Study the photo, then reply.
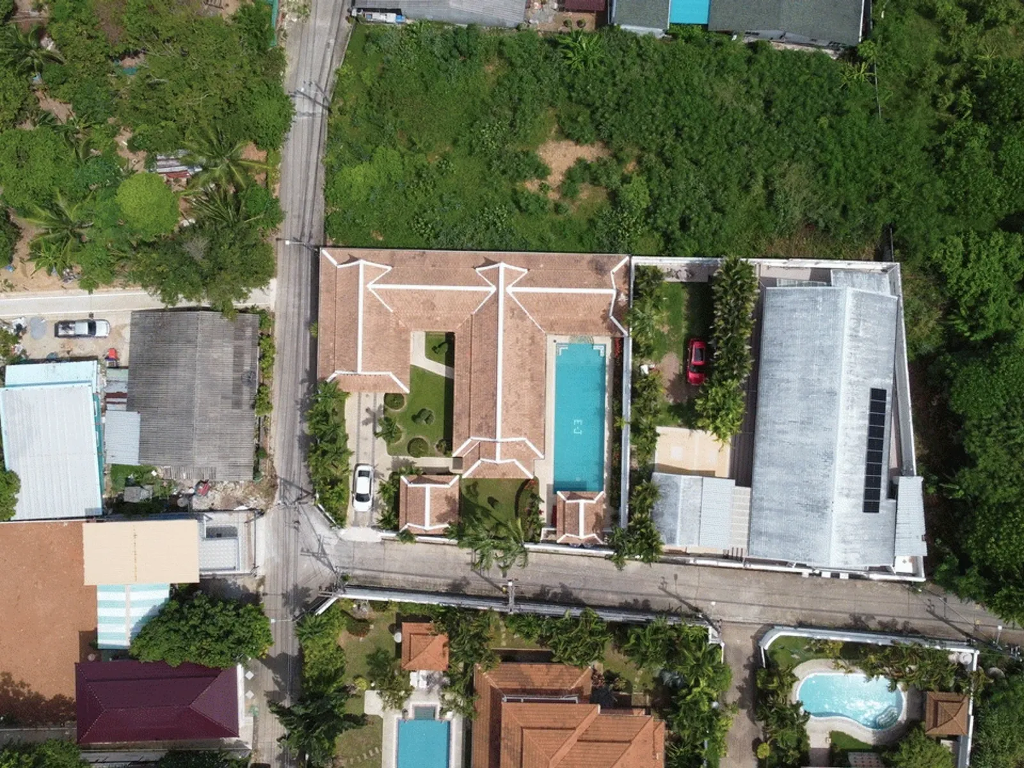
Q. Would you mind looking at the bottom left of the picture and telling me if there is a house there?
Yes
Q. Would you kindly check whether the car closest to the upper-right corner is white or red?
red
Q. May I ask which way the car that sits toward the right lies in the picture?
up and down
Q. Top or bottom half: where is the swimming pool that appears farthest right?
bottom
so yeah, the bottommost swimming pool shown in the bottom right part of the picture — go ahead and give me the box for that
[797,669,906,733]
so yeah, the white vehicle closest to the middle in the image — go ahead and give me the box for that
[349,464,373,512]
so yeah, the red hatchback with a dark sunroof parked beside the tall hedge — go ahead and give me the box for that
[685,339,709,385]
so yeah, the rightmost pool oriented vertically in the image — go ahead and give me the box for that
[552,335,608,495]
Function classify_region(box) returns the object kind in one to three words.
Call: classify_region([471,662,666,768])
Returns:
house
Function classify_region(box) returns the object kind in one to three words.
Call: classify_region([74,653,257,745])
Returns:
house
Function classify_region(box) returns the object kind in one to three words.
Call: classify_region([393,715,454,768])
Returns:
swimming pool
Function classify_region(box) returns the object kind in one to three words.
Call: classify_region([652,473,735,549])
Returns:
building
